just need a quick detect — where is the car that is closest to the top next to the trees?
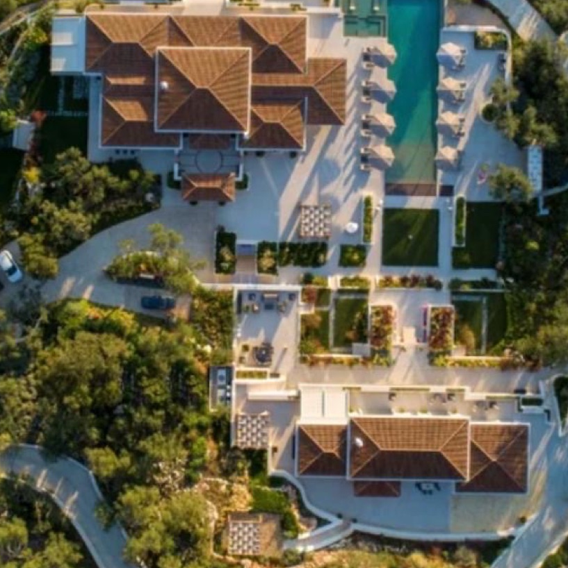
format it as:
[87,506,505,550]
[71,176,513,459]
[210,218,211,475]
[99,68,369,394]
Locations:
[0,249,23,281]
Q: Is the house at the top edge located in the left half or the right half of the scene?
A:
left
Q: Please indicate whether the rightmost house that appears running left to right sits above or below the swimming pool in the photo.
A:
below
